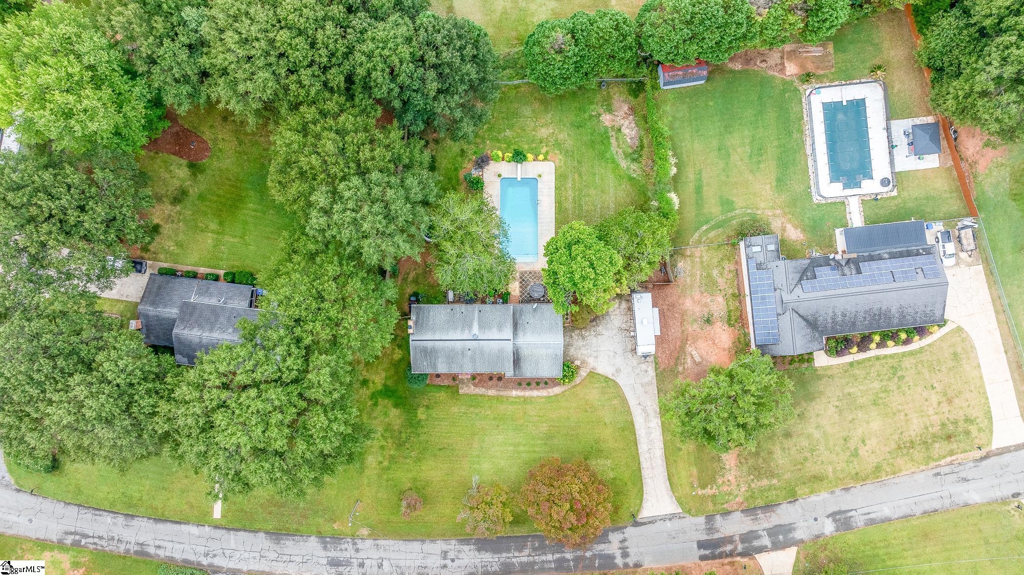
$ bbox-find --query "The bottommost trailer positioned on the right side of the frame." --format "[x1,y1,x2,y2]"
[628,293,659,362]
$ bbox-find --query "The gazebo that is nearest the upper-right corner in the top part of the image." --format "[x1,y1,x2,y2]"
[906,122,942,158]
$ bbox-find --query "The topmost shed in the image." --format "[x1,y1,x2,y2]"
[659,57,708,91]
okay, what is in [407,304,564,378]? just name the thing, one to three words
house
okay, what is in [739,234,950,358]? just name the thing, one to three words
house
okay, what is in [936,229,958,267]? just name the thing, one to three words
truck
